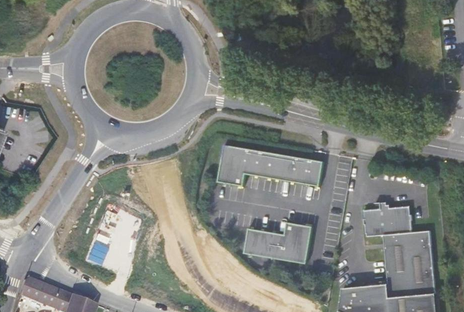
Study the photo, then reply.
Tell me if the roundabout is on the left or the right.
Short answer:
left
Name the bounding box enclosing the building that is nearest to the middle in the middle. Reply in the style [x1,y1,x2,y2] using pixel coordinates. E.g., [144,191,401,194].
[216,144,322,190]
